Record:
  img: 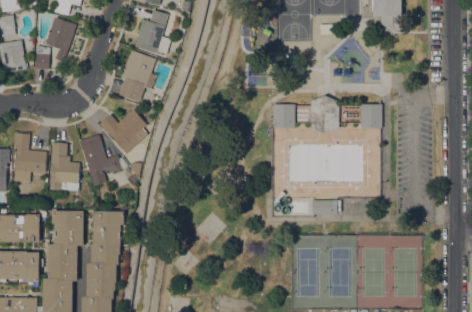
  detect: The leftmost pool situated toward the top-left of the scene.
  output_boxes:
[20,16,32,38]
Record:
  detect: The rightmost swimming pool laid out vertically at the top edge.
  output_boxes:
[40,14,52,39]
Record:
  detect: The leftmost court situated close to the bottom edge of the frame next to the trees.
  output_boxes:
[294,235,326,308]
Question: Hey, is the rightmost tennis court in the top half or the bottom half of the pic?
bottom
